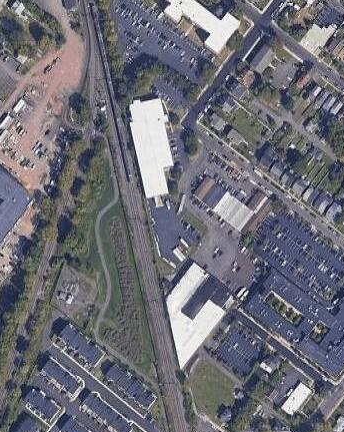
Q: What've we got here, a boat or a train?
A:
train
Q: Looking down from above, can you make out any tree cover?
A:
Yes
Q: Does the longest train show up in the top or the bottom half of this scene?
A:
top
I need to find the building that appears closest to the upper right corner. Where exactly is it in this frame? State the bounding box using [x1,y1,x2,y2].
[317,2,344,26]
